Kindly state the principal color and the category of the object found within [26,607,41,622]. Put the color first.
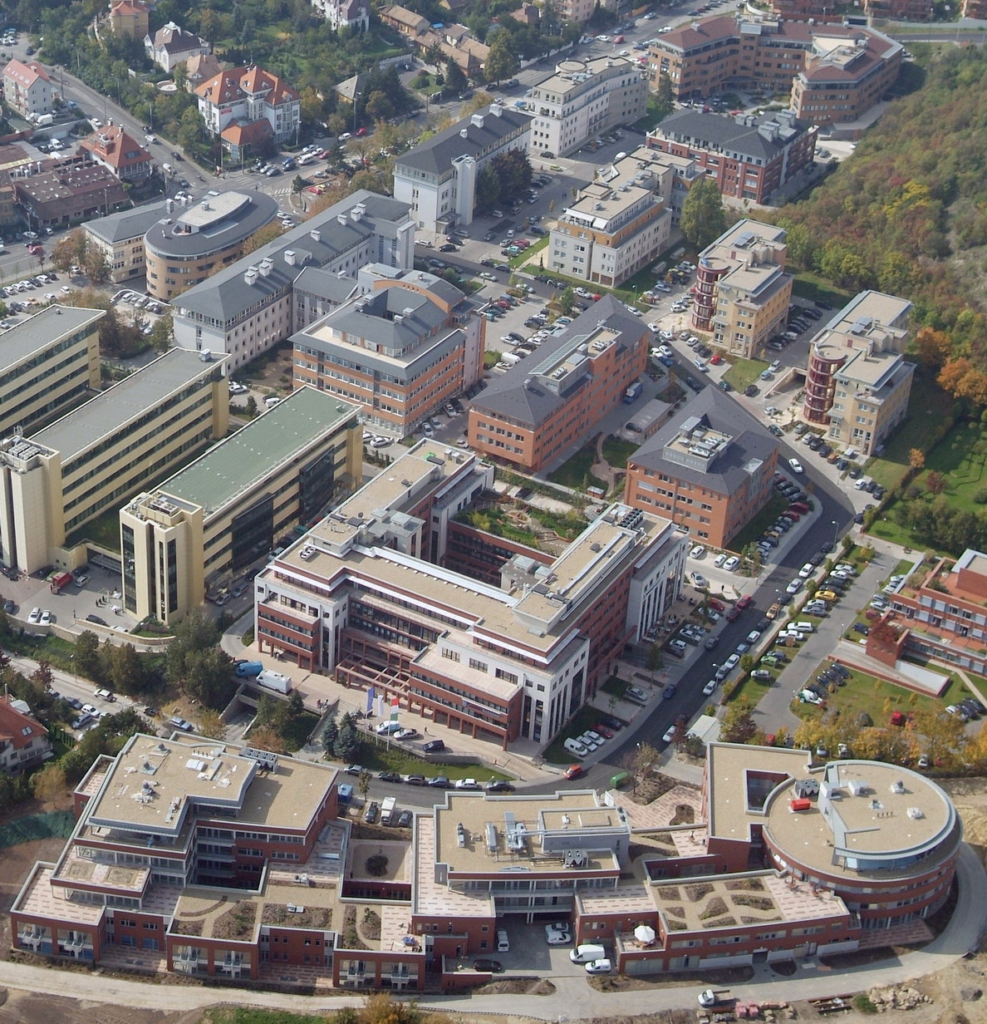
white car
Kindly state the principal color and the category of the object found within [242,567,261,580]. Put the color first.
black vehicle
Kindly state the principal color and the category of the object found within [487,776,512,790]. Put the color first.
gray car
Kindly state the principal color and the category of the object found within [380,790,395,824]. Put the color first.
white vehicle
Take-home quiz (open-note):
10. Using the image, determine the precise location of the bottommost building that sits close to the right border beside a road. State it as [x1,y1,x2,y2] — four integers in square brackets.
[641,742,964,967]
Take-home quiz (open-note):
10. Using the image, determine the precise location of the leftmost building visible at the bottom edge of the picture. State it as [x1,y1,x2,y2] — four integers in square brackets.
[11,731,426,984]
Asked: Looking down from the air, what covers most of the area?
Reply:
buildings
